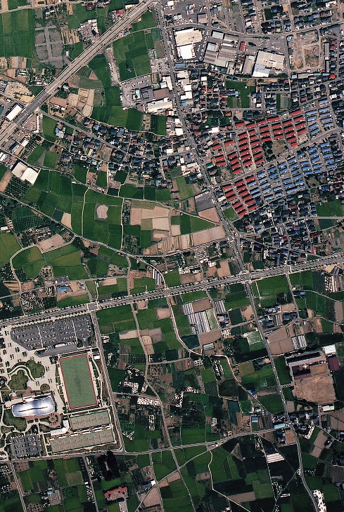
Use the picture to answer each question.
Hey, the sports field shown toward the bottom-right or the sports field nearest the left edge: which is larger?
the sports field nearest the left edge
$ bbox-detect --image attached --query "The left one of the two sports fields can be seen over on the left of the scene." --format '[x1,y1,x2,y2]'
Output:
[58,351,99,412]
